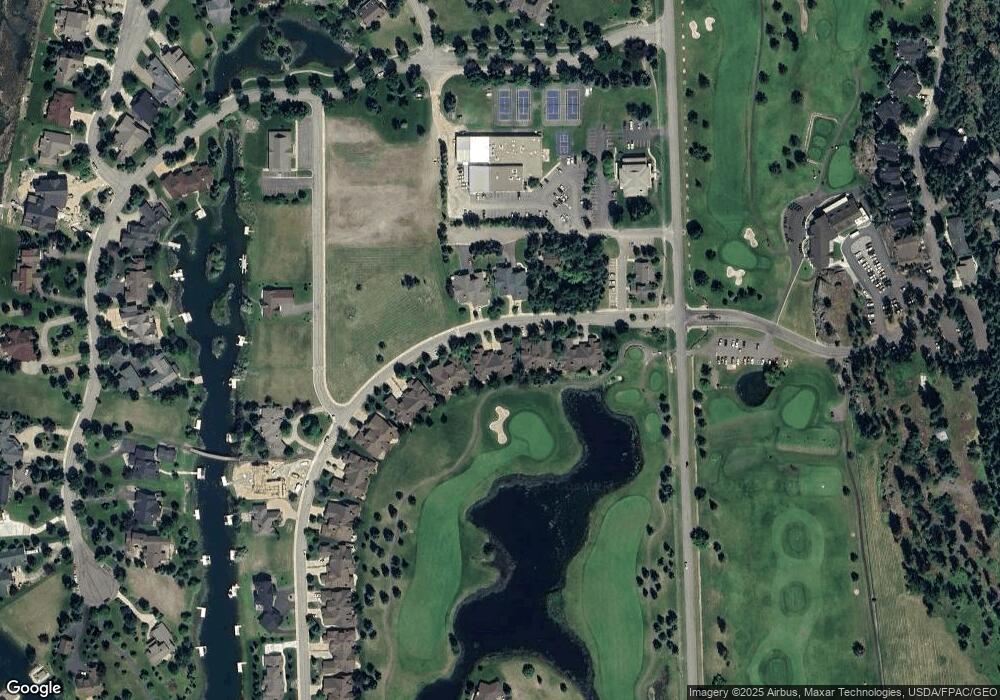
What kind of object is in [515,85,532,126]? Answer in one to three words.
tennis court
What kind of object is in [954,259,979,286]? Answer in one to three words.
house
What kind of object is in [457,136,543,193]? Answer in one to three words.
building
